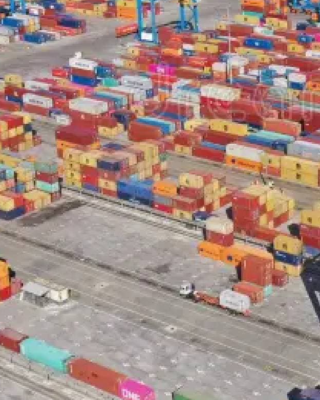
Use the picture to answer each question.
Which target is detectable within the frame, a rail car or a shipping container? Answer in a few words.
shipping container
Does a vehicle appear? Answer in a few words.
Yes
